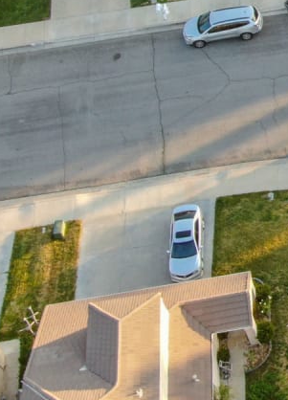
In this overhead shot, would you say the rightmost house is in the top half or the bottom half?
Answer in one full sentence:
Seen from above, the rightmost house lies in the bottom half of the view.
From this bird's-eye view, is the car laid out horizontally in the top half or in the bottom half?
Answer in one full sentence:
You can find the car laid out horizontally in the top half.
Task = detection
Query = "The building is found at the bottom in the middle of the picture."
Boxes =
[12,272,255,400]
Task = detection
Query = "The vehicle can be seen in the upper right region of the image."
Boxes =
[184,0,265,47]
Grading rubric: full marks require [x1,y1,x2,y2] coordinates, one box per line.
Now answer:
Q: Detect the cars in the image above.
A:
[163,196,207,284]
[184,0,265,47]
